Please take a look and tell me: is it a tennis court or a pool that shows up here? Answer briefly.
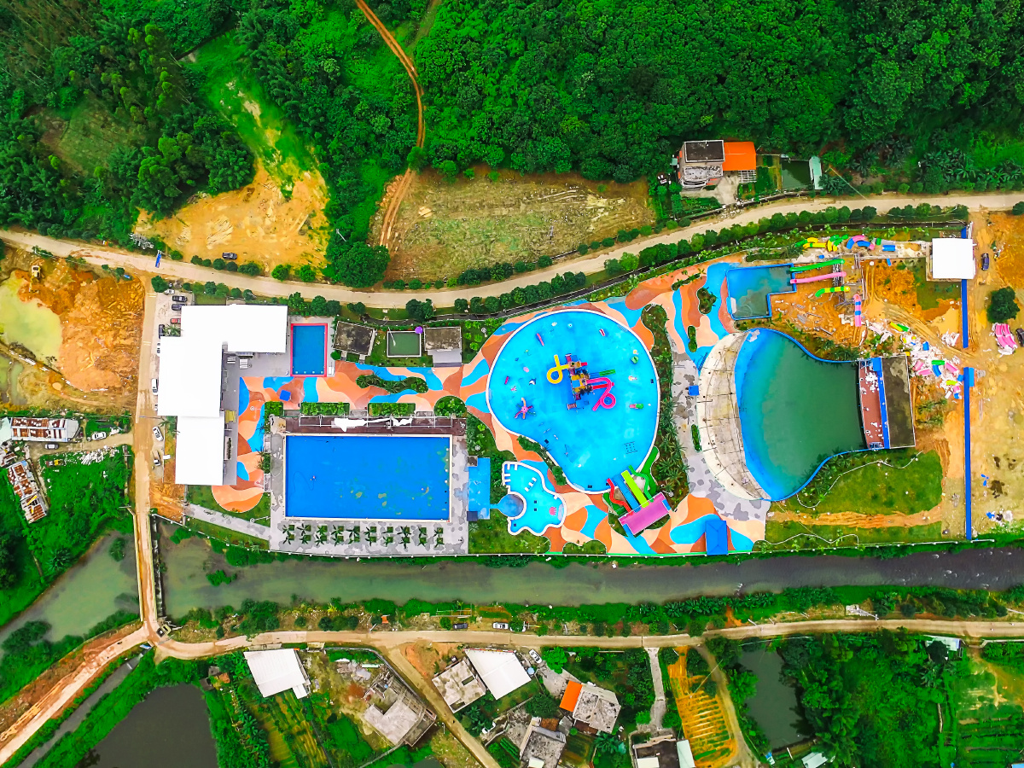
pool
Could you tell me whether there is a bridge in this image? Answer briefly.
Yes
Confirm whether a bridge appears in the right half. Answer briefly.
No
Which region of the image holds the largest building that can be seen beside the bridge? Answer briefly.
left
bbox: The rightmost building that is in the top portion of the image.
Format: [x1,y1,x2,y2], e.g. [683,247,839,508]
[926,238,975,281]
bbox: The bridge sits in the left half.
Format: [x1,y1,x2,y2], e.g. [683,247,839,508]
[127,507,159,621]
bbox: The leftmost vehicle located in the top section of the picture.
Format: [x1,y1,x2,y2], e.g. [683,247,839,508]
[22,262,41,296]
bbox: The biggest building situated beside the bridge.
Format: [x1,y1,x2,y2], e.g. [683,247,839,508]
[158,305,292,486]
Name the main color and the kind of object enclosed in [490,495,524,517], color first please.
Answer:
blue swimming pool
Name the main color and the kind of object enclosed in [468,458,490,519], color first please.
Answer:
blue swimming pool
